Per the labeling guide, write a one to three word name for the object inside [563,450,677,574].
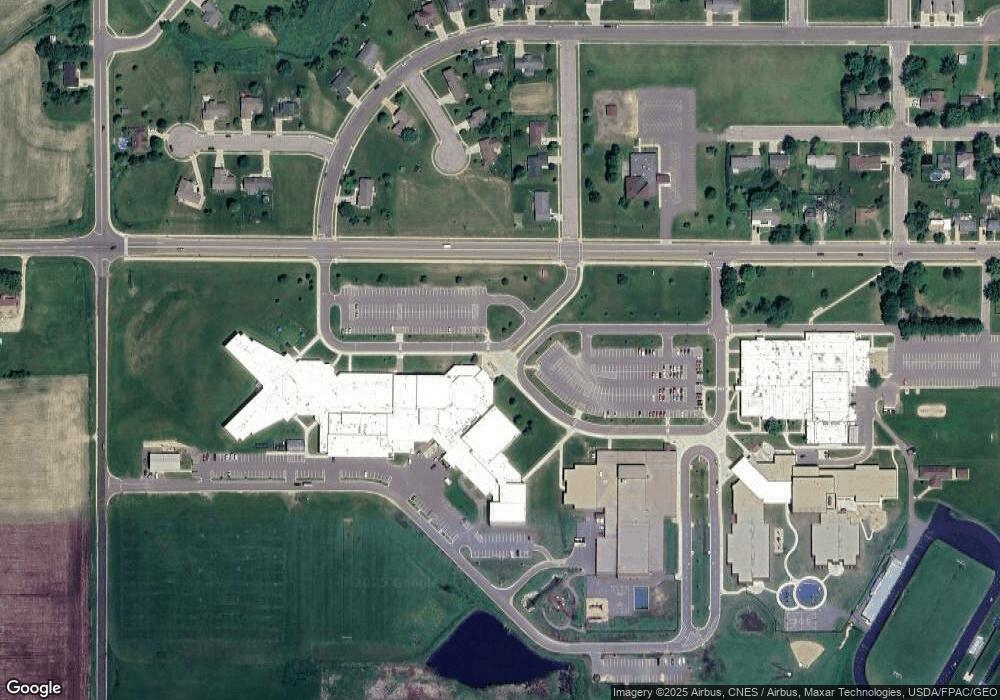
building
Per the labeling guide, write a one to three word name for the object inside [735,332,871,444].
building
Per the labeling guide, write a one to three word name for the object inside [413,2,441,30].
house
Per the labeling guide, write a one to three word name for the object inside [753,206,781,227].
house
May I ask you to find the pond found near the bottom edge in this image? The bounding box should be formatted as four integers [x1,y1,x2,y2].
[426,609,570,688]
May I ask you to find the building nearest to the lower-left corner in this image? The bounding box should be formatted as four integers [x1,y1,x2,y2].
[149,454,180,473]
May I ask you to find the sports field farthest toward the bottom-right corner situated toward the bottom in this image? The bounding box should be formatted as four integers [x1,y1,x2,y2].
[866,540,994,700]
